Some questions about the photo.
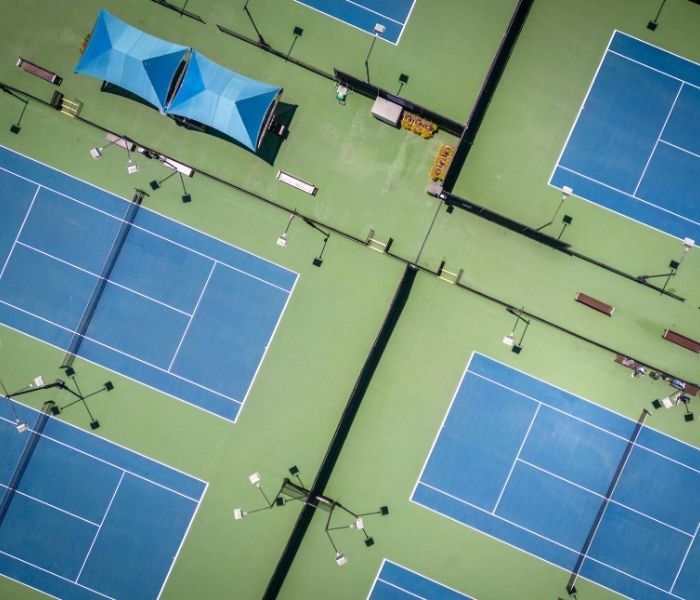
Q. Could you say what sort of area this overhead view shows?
sports ground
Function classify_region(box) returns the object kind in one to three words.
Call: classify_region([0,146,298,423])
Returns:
tennis court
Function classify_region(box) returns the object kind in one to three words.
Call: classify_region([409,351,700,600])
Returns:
tennis court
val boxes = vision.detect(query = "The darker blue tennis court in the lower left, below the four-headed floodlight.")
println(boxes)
[0,394,206,600]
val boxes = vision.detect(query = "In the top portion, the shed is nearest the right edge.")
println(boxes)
[371,97,403,126]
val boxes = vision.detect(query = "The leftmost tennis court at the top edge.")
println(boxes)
[291,0,416,44]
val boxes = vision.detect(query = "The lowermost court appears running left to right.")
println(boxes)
[368,560,477,600]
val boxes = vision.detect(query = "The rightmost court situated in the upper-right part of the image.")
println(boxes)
[549,31,700,247]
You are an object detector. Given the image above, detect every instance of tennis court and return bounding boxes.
[0,394,206,600]
[368,560,477,600]
[409,351,700,600]
[0,146,298,423]
[291,0,416,44]
[549,31,700,247]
